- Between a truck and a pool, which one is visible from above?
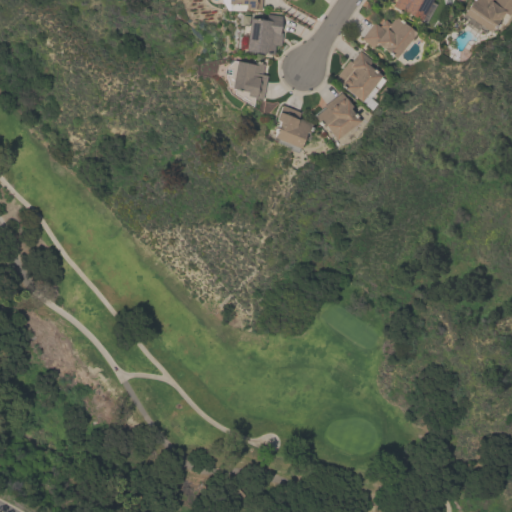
pool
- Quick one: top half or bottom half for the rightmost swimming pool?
top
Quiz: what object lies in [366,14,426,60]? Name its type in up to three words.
house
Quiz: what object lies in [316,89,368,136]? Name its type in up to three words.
house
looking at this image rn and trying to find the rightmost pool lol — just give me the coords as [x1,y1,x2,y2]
[446,26,497,62]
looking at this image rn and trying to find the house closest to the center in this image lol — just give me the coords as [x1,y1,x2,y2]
[274,102,314,152]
